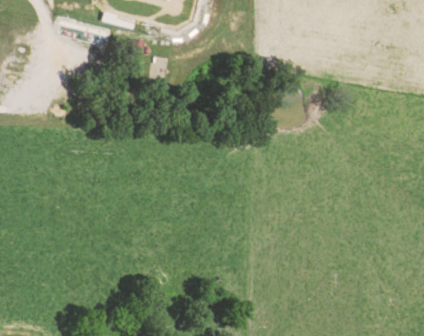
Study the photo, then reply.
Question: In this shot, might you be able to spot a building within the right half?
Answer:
No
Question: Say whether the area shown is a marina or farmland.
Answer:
farmland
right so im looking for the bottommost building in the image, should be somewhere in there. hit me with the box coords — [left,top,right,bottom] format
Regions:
[150,56,168,79]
